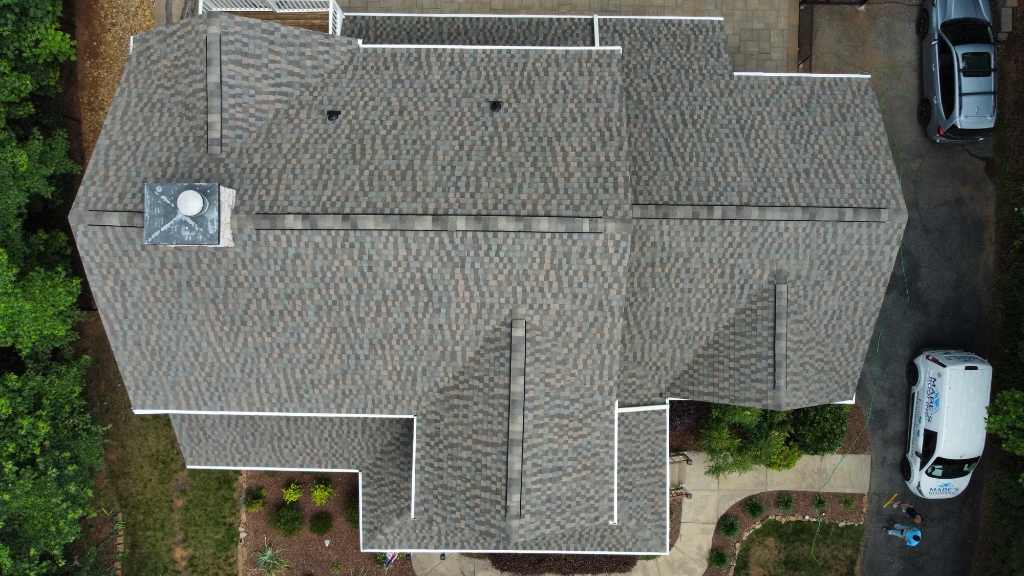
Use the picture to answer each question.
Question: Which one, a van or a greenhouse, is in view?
van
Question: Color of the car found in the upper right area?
black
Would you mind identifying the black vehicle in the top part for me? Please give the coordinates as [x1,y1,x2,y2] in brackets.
[916,0,1001,145]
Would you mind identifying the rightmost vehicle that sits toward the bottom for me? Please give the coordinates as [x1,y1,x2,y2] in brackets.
[902,352,996,502]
